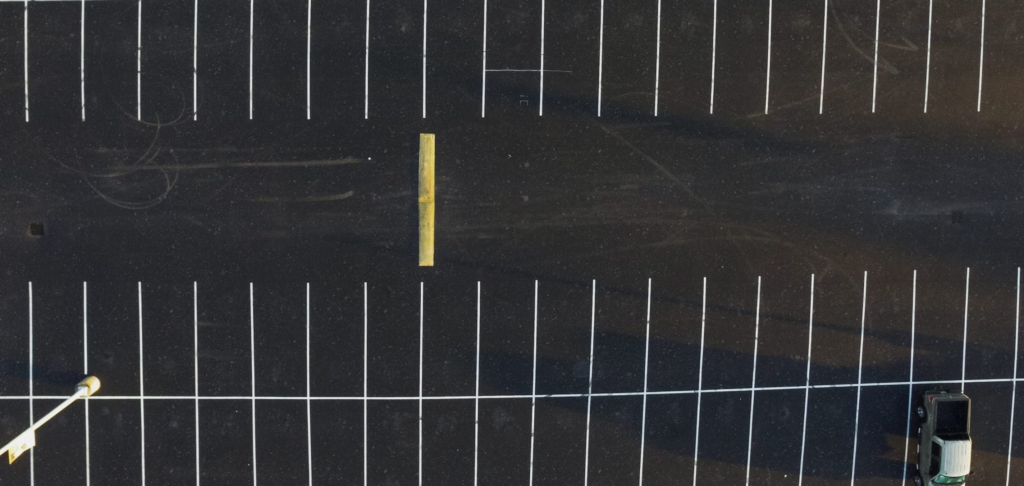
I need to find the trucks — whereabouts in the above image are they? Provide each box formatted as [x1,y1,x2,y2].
[914,385,974,486]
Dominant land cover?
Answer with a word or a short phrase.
paved ground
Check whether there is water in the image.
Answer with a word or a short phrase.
No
